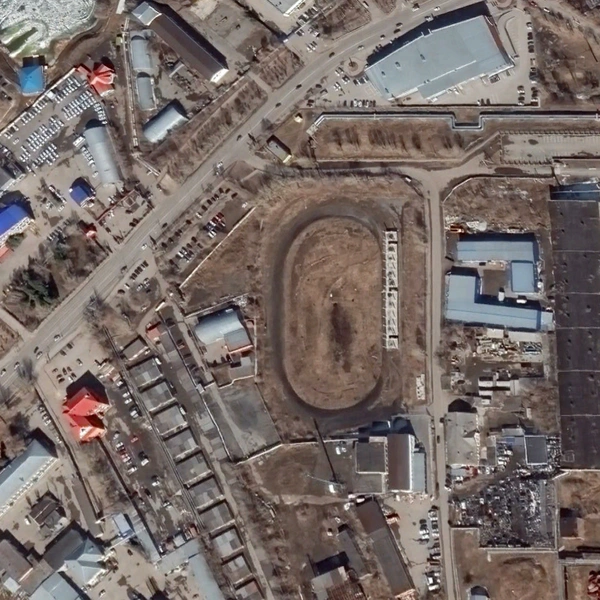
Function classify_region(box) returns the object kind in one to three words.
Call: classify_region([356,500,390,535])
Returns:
barn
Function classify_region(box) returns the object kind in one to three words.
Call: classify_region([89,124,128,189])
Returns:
hangar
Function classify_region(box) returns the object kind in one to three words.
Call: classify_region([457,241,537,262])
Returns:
building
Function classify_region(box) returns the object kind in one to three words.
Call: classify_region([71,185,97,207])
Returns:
house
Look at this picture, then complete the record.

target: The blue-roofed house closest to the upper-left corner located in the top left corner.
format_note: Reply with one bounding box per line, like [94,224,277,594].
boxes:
[20,66,48,94]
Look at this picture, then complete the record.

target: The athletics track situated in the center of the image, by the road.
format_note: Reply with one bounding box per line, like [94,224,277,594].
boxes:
[270,203,400,426]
